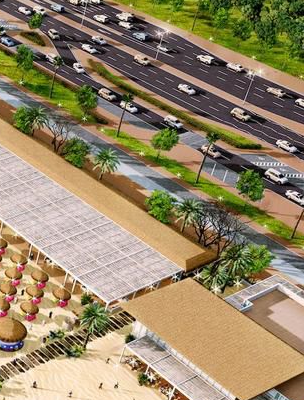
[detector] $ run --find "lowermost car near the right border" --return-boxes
[281,188,304,204]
